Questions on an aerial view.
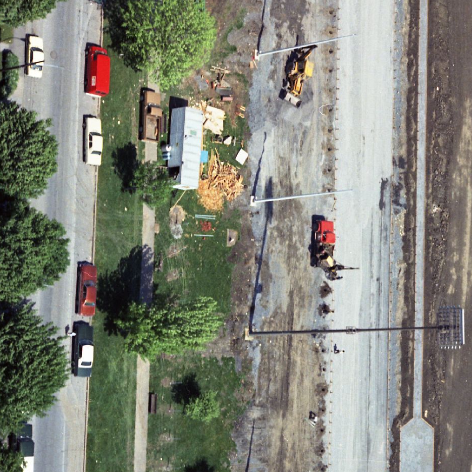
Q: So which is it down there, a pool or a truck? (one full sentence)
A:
I can see a truck in this picture.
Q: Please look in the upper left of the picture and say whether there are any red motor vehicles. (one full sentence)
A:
Yes, a red motor vehicle shows up in the upper left of the picture.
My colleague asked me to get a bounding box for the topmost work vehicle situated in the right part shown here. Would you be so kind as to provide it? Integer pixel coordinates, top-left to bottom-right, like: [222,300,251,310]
[279,48,321,106]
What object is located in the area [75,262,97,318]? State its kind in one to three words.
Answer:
car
